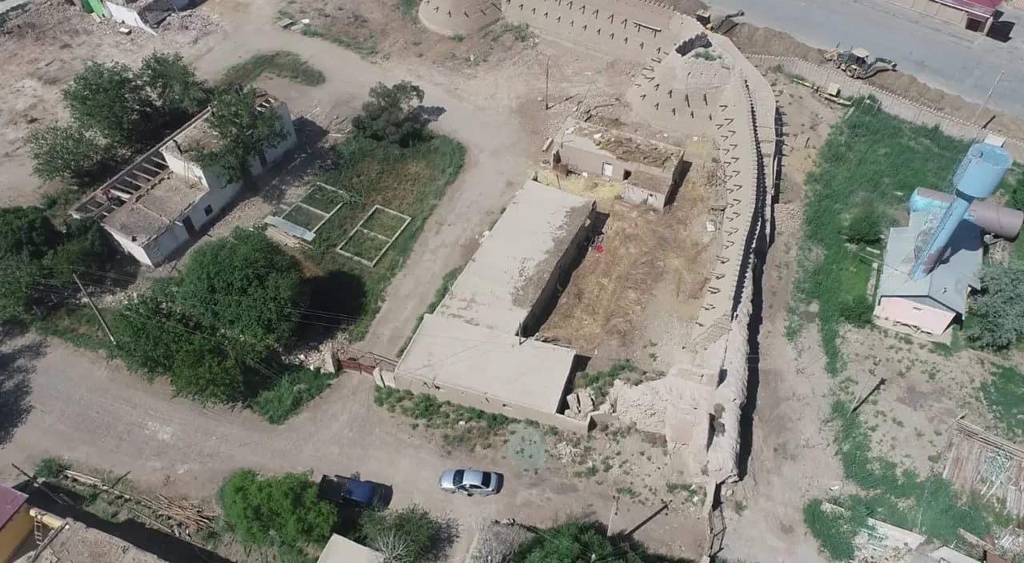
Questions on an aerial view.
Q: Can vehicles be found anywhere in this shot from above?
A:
Yes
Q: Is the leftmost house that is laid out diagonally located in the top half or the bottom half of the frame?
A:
top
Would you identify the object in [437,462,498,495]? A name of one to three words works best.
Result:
car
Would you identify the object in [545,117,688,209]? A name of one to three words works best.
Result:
house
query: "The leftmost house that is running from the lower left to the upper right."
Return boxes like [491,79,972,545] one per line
[68,89,295,268]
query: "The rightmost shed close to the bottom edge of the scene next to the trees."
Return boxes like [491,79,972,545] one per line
[319,533,392,563]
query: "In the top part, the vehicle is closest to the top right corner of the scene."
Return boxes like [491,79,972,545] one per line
[818,44,897,71]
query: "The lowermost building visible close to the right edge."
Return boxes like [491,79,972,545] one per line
[874,215,983,344]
